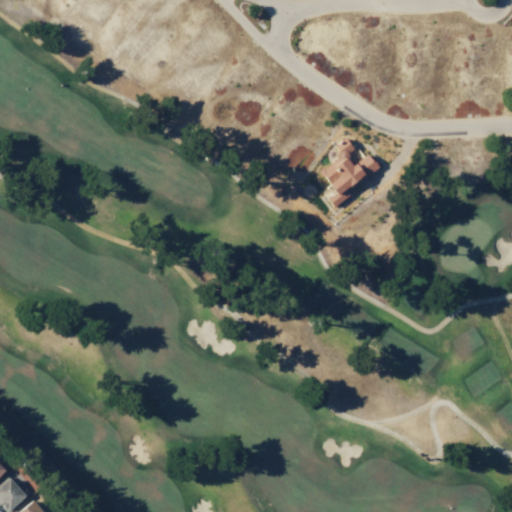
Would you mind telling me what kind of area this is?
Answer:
golf course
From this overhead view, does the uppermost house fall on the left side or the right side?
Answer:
right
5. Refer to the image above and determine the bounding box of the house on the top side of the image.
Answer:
[324,138,381,206]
